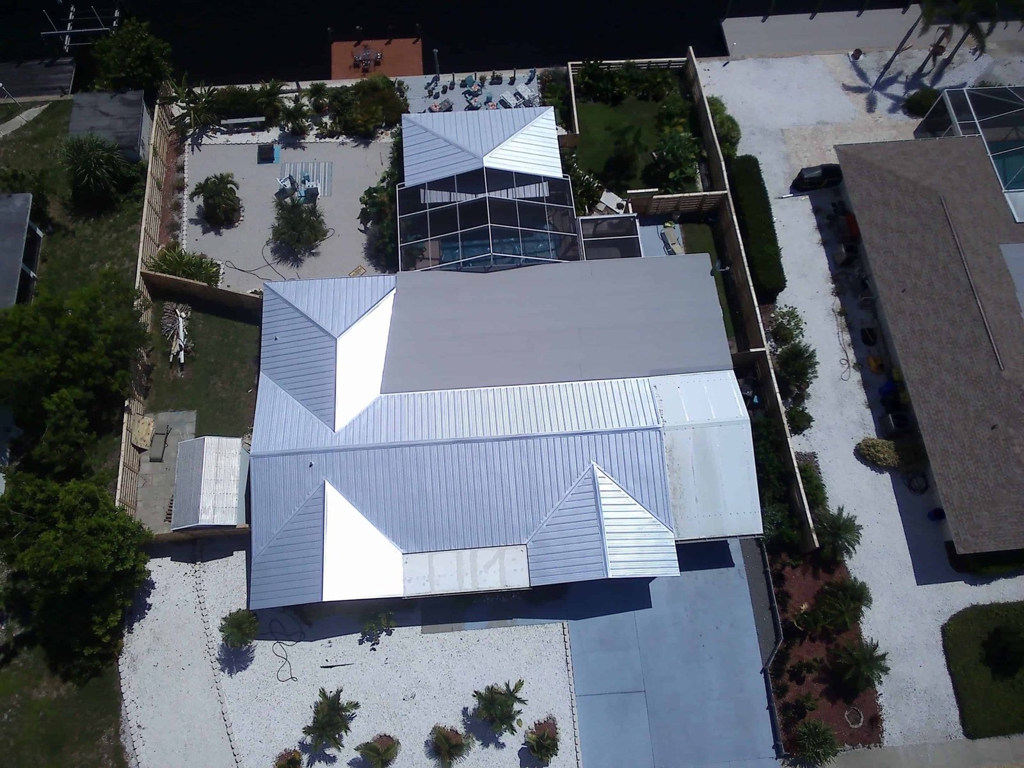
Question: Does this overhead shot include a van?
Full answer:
No, there appears to be no van in this shot.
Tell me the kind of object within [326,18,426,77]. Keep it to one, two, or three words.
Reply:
pier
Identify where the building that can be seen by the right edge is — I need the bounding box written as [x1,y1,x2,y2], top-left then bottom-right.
[837,136,1024,556]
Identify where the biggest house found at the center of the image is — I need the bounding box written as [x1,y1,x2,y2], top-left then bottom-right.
[246,252,765,610]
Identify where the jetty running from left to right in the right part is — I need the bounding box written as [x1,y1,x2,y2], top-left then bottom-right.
[716,0,1024,56]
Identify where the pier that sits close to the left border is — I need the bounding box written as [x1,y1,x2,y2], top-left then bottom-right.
[0,40,77,93]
